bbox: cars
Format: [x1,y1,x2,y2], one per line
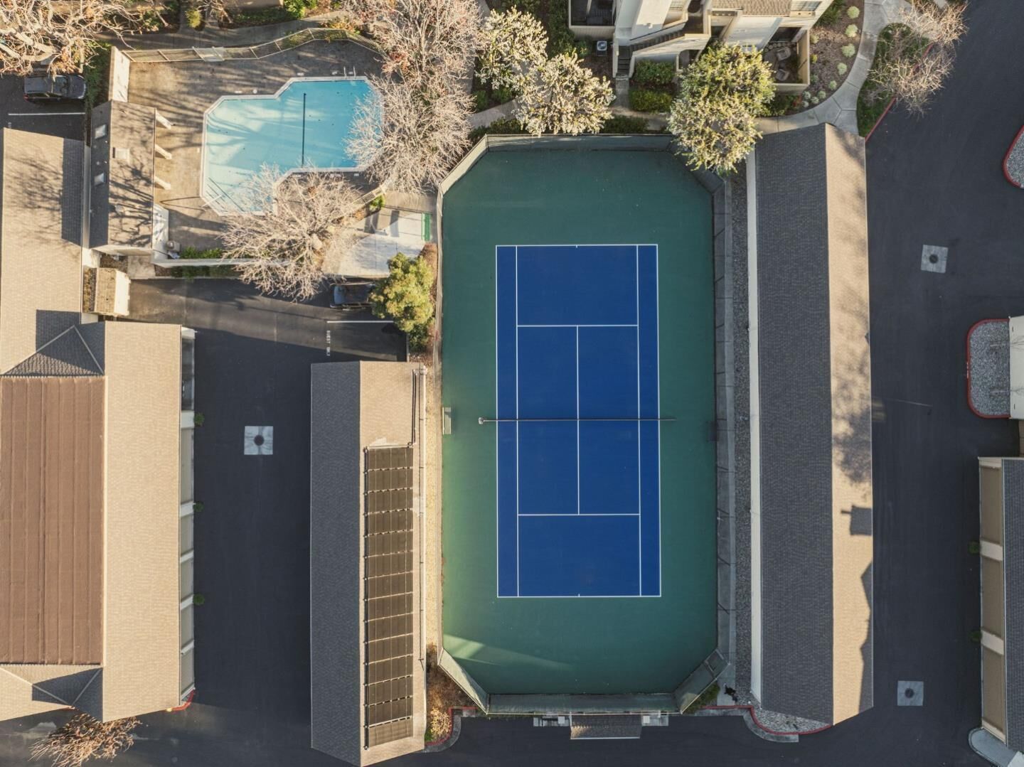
[15,65,86,103]
[327,275,393,308]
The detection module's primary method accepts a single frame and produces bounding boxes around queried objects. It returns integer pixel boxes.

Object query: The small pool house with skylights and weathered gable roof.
[92,103,173,257]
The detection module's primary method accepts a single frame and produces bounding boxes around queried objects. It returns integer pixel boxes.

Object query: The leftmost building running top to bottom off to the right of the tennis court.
[748,126,874,731]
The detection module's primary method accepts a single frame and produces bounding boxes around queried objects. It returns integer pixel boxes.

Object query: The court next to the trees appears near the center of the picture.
[442,149,718,693]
